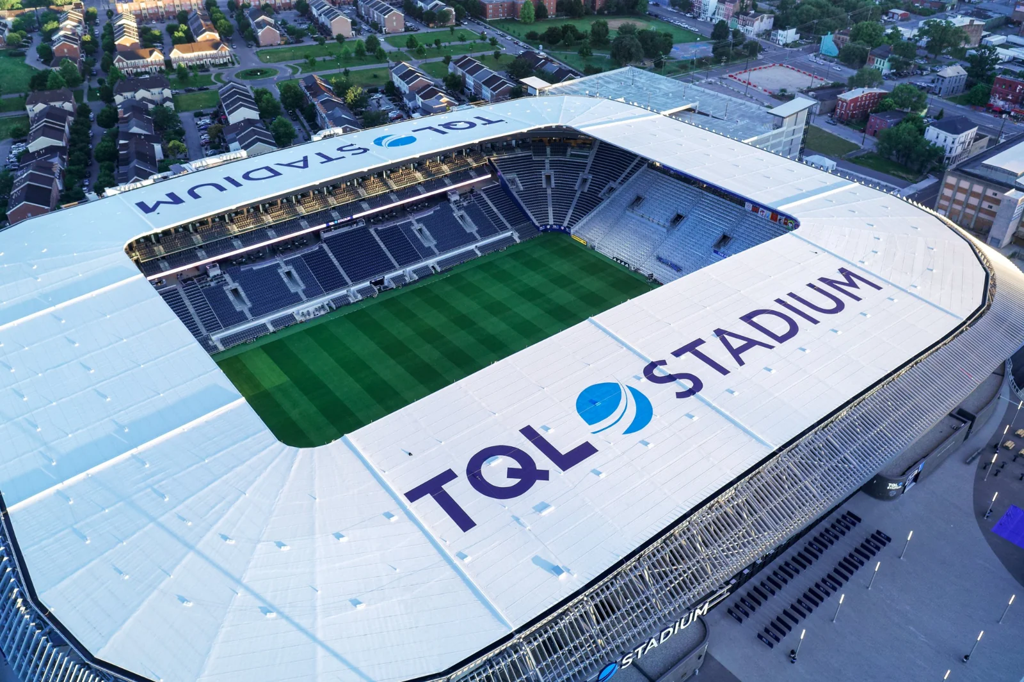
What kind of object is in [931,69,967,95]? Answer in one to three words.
house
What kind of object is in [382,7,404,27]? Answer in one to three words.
house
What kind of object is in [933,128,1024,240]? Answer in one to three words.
building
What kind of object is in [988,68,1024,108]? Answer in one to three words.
building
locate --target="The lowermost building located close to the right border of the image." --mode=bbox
[846,409,975,509]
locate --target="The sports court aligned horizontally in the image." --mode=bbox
[668,41,714,59]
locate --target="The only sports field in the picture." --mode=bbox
[241,234,657,445]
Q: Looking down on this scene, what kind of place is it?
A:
sports ground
